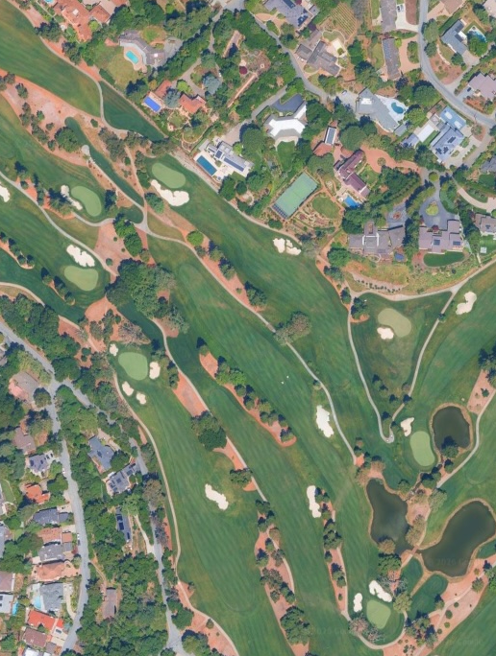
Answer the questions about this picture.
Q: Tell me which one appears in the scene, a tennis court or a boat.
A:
tennis court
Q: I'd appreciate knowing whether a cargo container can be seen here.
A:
No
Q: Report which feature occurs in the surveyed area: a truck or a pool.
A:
pool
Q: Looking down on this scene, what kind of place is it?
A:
golf course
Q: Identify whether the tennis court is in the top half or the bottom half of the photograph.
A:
top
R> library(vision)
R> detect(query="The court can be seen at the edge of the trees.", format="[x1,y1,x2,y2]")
[273,173,318,217]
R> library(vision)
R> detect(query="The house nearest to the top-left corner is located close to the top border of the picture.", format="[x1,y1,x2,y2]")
[49,0,113,43]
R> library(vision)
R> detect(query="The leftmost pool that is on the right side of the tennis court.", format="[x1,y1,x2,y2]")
[342,192,361,210]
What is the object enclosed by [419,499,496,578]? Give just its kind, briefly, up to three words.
pond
